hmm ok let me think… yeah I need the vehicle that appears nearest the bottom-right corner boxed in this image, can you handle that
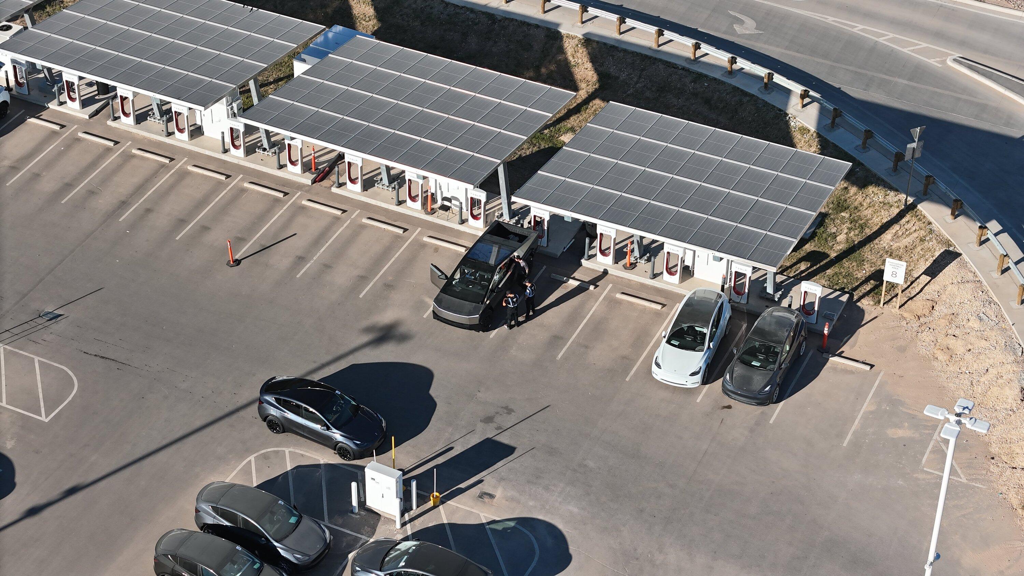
[723,312,809,410]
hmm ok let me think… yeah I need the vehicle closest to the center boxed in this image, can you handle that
[422,221,539,332]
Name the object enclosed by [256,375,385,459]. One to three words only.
car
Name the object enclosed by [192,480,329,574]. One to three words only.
car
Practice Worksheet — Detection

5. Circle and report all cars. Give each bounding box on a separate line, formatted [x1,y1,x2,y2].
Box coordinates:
[151,528,285,576]
[723,312,809,410]
[653,293,732,390]
[349,533,494,576]
[192,480,329,574]
[256,375,385,459]
[0,84,11,119]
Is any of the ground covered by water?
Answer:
No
